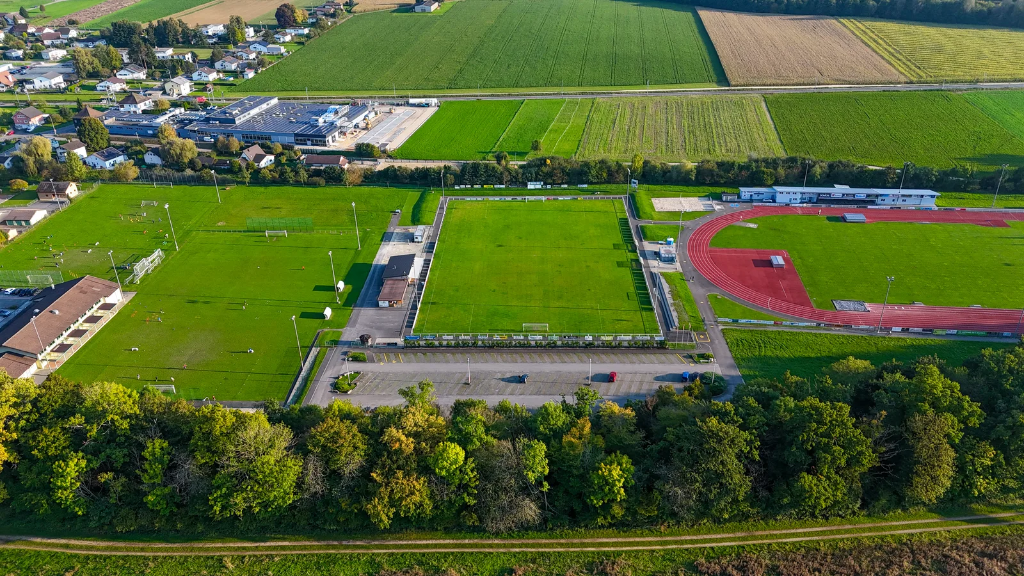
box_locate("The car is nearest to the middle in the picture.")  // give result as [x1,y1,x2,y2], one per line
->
[518,372,530,384]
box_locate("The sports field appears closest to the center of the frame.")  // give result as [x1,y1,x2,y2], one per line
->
[405,197,663,337]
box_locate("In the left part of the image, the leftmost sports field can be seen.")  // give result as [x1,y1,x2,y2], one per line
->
[0,185,422,404]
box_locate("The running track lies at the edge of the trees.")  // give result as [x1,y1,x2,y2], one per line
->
[686,205,1024,329]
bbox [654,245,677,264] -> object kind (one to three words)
building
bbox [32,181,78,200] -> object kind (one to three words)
house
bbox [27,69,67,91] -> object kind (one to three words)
house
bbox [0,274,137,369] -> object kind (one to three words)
building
